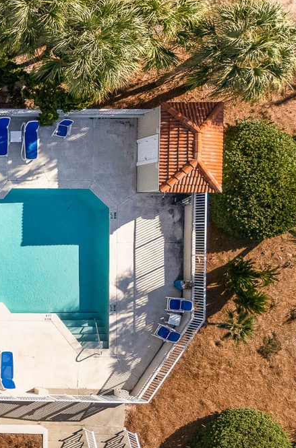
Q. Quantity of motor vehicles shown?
0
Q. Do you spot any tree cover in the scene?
Yes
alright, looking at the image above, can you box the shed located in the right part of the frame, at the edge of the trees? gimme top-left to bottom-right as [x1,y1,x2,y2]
[135,100,225,194]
